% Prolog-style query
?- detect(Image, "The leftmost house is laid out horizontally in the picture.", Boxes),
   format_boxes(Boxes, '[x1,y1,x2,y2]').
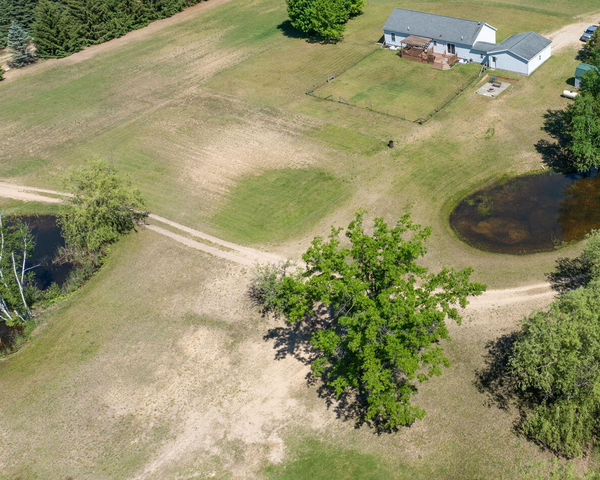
[382,7,557,74]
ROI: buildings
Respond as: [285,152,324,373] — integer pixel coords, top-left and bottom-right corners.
[382,7,557,74]
[574,62,600,91]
